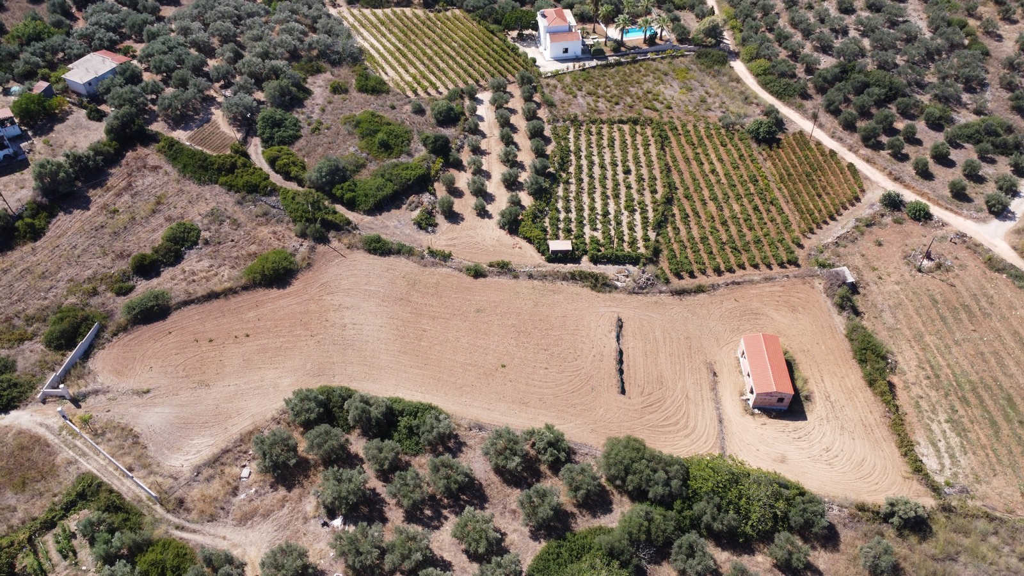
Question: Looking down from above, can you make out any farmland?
Yes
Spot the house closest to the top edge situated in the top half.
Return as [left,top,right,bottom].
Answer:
[530,8,584,58]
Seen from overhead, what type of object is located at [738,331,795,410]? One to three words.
building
